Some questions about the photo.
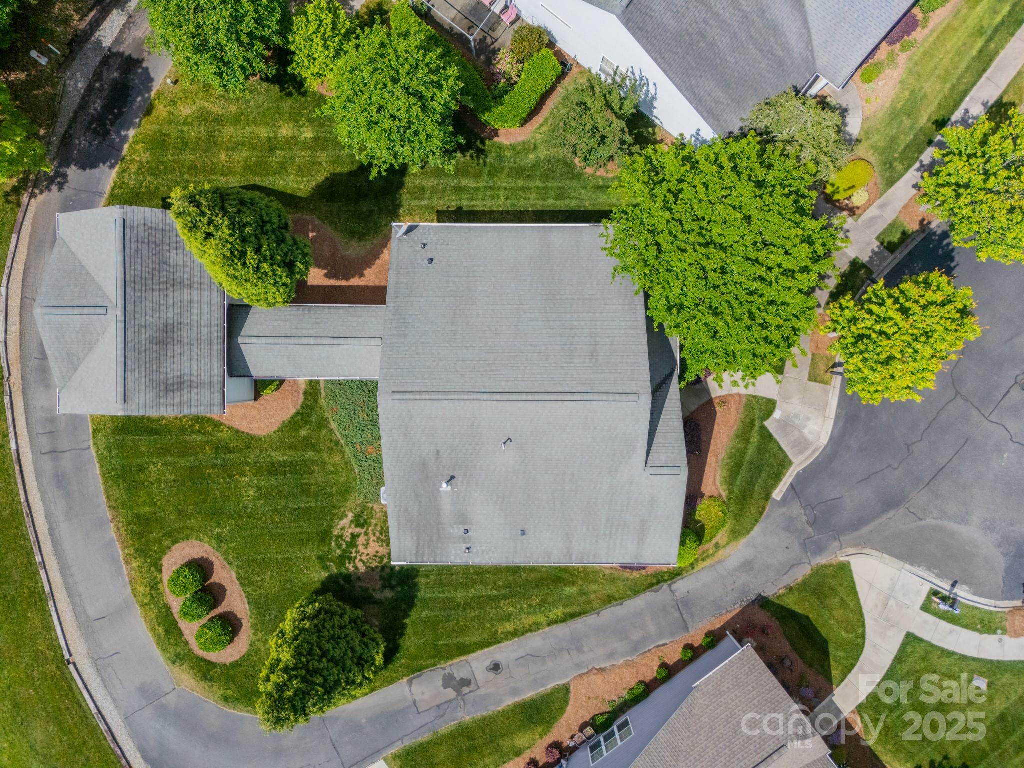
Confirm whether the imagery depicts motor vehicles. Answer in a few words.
No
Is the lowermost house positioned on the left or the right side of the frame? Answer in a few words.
right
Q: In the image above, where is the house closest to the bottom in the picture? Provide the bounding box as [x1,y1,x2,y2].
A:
[557,635,840,768]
